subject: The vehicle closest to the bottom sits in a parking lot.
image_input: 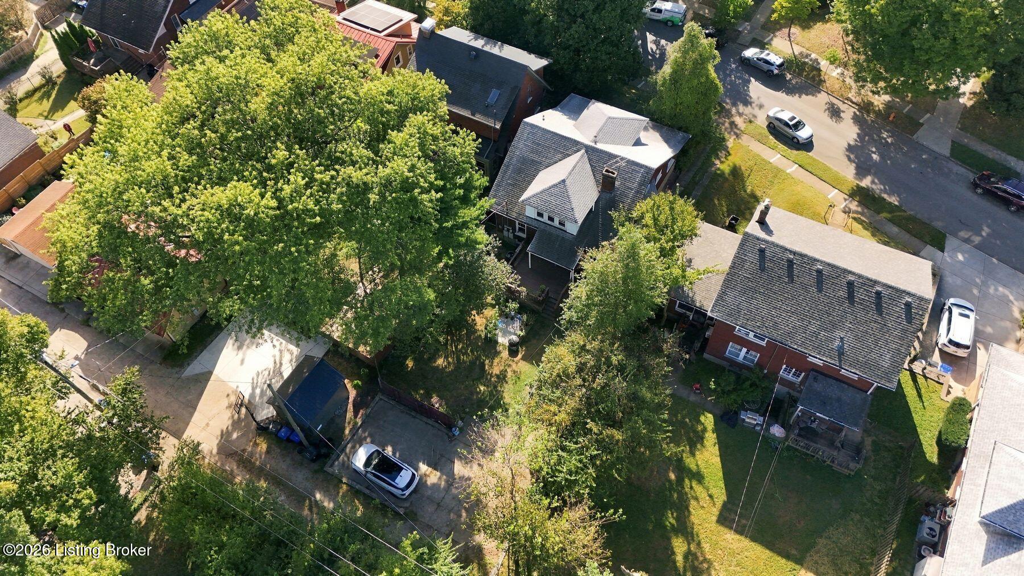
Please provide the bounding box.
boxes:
[346,444,422,501]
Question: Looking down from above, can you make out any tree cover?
Yes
